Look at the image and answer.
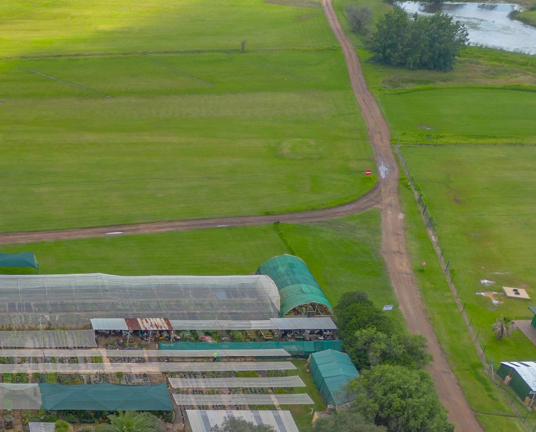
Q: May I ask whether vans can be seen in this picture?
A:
No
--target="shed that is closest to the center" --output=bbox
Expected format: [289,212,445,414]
[267,317,337,340]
